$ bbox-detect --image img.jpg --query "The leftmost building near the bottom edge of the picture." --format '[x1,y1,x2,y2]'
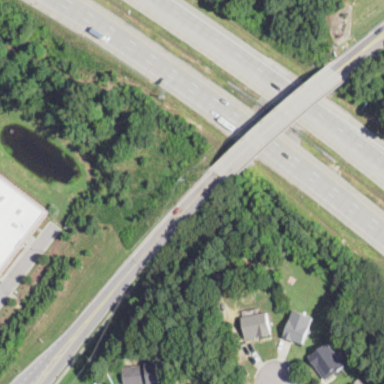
[122,362,144,384]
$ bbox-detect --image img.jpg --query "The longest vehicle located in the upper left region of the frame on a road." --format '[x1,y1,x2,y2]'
[86,25,111,44]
